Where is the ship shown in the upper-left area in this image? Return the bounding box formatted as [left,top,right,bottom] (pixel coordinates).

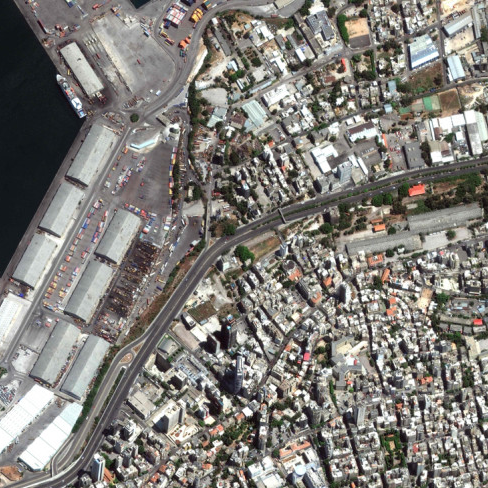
[57,74,87,121]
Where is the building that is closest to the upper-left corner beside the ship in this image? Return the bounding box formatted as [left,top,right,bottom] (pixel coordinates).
[60,42,104,97]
